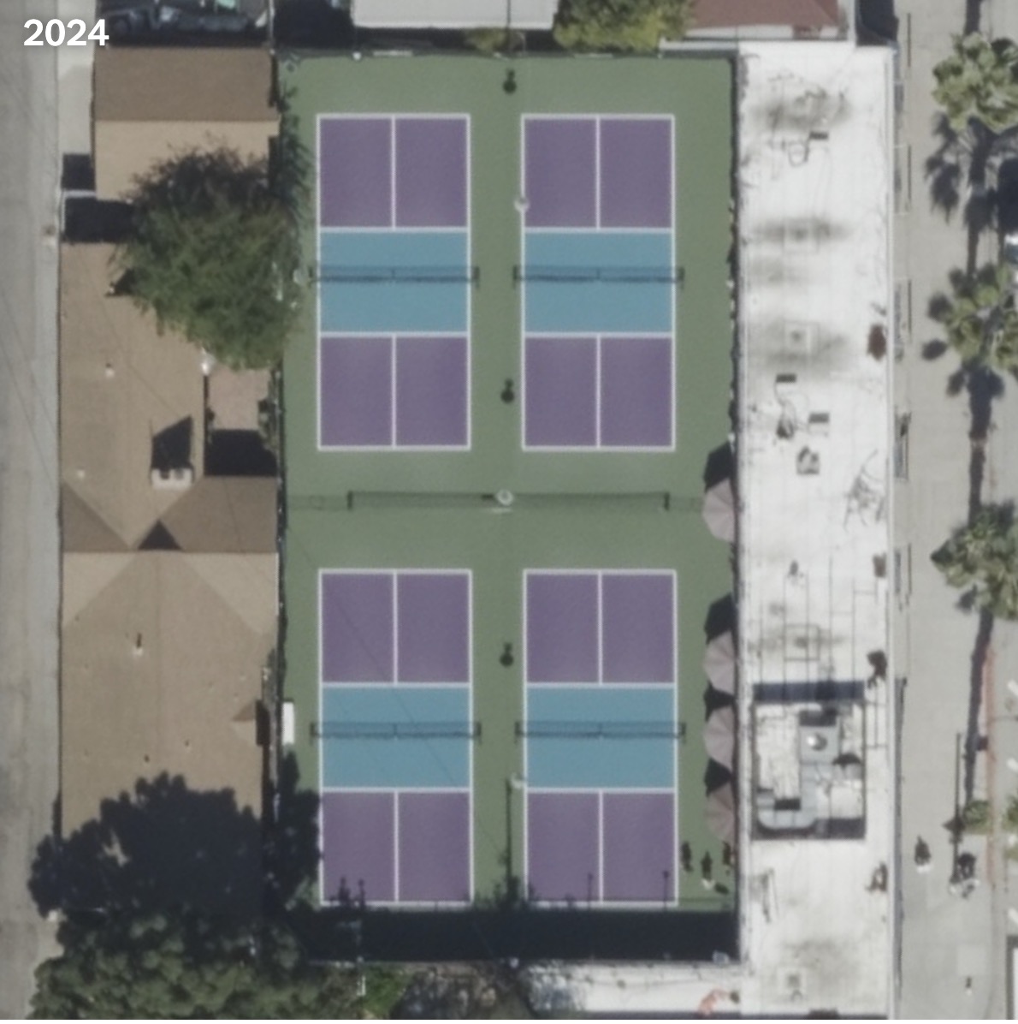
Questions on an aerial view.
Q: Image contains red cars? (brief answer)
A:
No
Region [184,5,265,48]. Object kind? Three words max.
car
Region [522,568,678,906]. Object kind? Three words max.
sports court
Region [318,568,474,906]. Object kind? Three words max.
sports court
